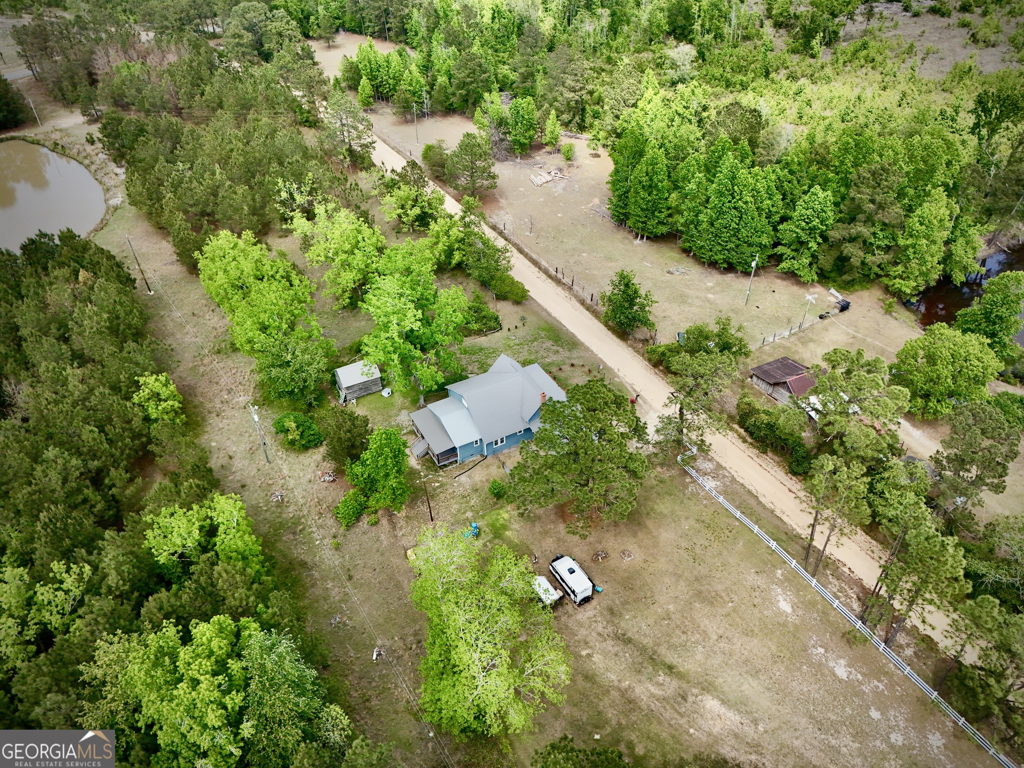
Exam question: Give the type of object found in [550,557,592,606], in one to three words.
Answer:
vehicle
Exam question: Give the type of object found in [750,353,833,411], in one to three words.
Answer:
barn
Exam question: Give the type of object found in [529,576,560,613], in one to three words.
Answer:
trailer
